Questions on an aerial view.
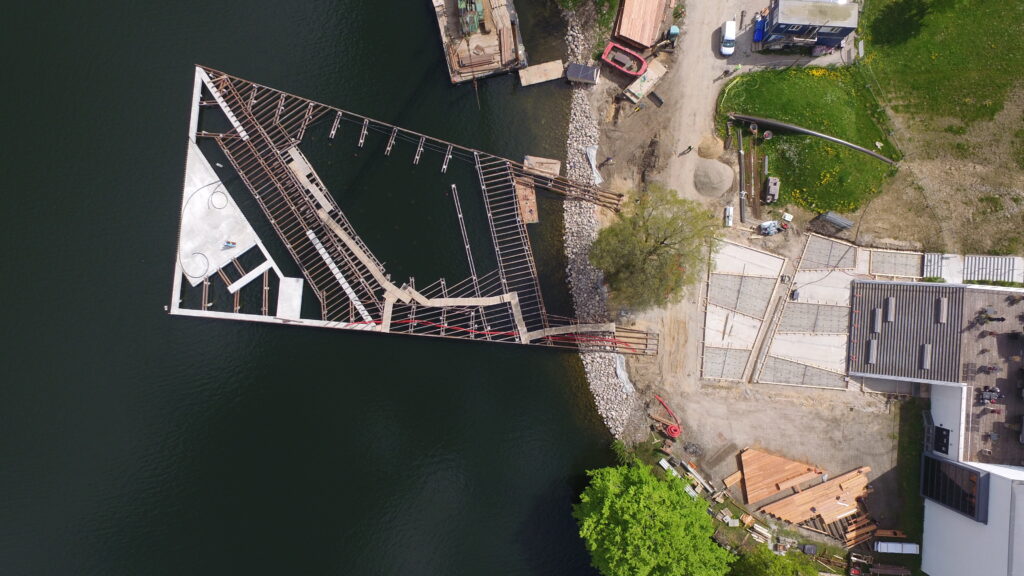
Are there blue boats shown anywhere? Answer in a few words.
No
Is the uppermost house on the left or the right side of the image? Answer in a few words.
right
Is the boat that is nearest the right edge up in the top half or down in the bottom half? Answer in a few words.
top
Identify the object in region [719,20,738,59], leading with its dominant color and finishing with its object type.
white vehicle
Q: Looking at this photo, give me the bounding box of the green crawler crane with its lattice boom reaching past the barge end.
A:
[455,0,487,109]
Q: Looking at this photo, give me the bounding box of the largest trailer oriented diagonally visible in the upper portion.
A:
[623,59,668,103]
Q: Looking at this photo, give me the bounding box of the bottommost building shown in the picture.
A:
[920,450,1024,576]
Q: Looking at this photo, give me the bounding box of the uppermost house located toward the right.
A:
[763,0,860,51]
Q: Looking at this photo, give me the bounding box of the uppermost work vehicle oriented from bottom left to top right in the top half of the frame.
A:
[643,26,683,61]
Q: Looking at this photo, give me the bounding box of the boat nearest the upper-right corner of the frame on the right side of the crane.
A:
[602,43,647,76]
